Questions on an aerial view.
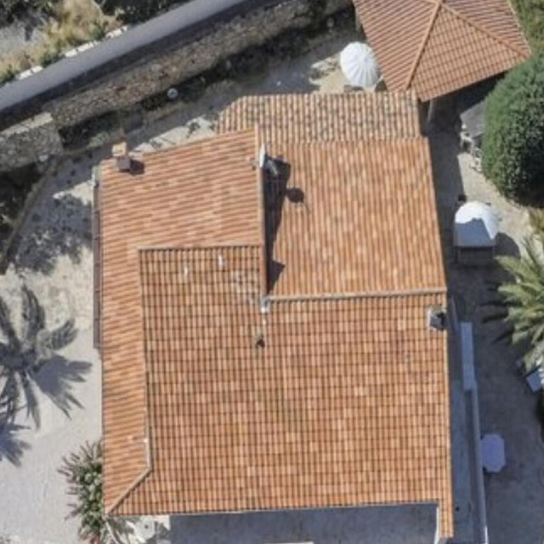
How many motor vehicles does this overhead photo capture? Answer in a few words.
0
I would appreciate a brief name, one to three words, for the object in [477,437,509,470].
umbrella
